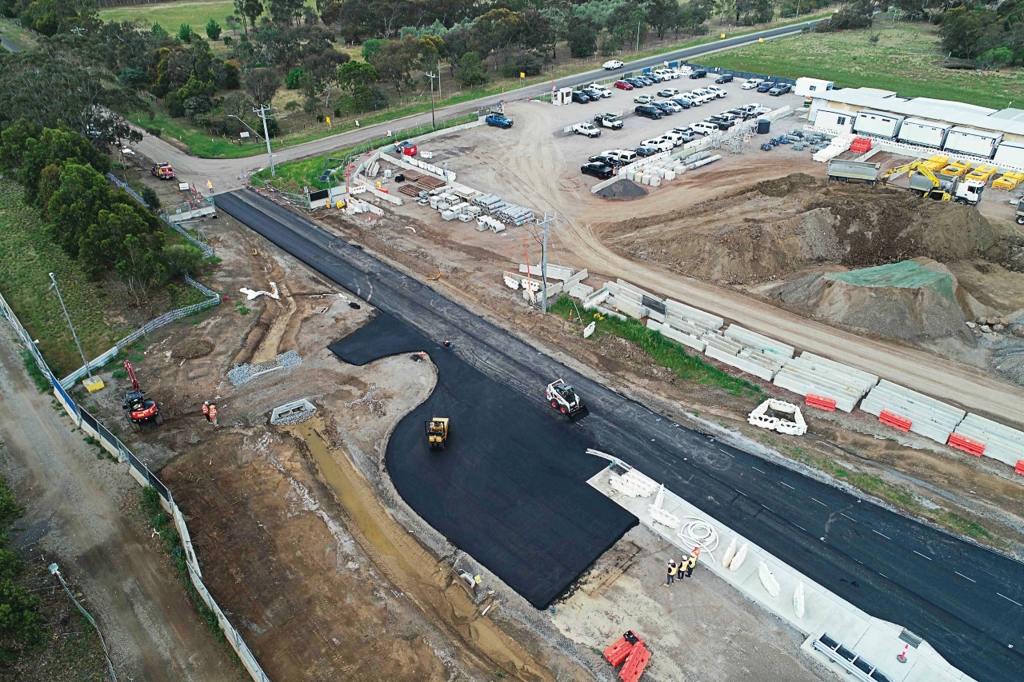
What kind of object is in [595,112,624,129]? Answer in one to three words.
vehicle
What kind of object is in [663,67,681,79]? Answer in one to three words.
vehicle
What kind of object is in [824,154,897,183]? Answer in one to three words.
trailer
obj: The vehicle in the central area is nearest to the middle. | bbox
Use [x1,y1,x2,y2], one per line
[546,380,592,421]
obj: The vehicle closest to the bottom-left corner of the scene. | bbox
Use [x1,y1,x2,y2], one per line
[112,358,164,433]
